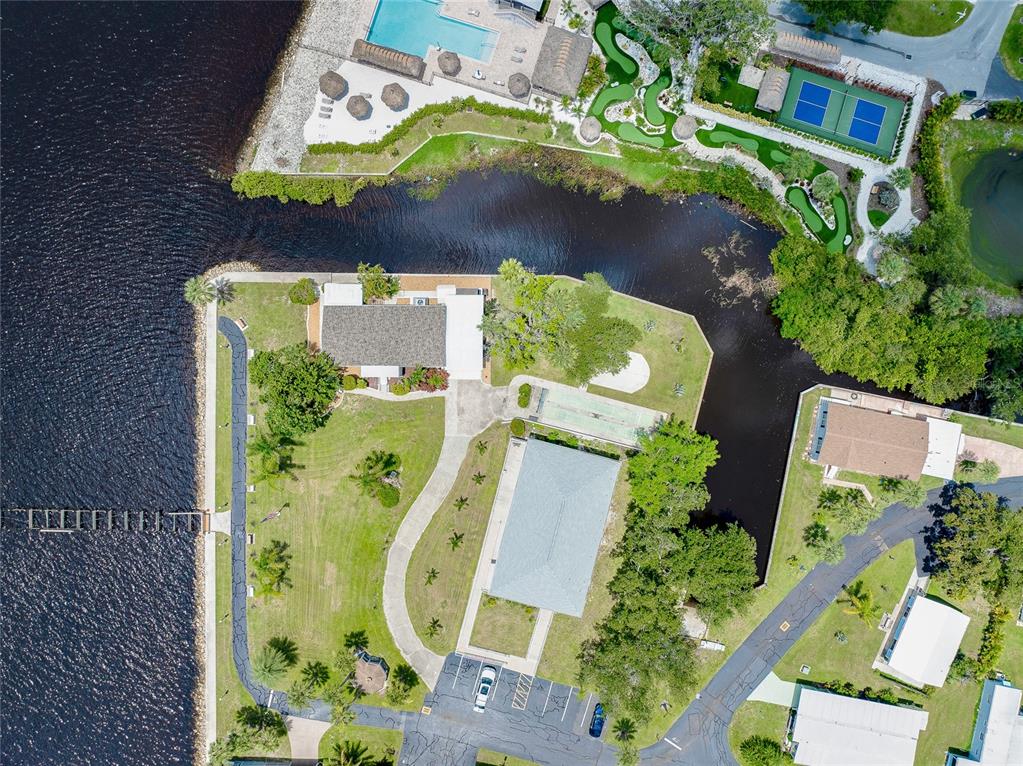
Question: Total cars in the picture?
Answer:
2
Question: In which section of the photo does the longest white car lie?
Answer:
bottom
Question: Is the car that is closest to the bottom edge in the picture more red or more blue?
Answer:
blue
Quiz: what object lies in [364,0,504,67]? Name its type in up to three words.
swimming pool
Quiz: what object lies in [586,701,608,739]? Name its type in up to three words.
car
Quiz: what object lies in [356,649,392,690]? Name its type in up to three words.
gazebo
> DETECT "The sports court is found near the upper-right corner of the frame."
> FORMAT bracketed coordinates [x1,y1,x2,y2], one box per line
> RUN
[776,66,904,158]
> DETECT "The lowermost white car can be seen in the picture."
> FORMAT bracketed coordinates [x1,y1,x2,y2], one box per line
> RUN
[472,664,497,714]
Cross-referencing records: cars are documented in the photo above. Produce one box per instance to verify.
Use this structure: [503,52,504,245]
[586,701,608,739]
[472,664,497,714]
